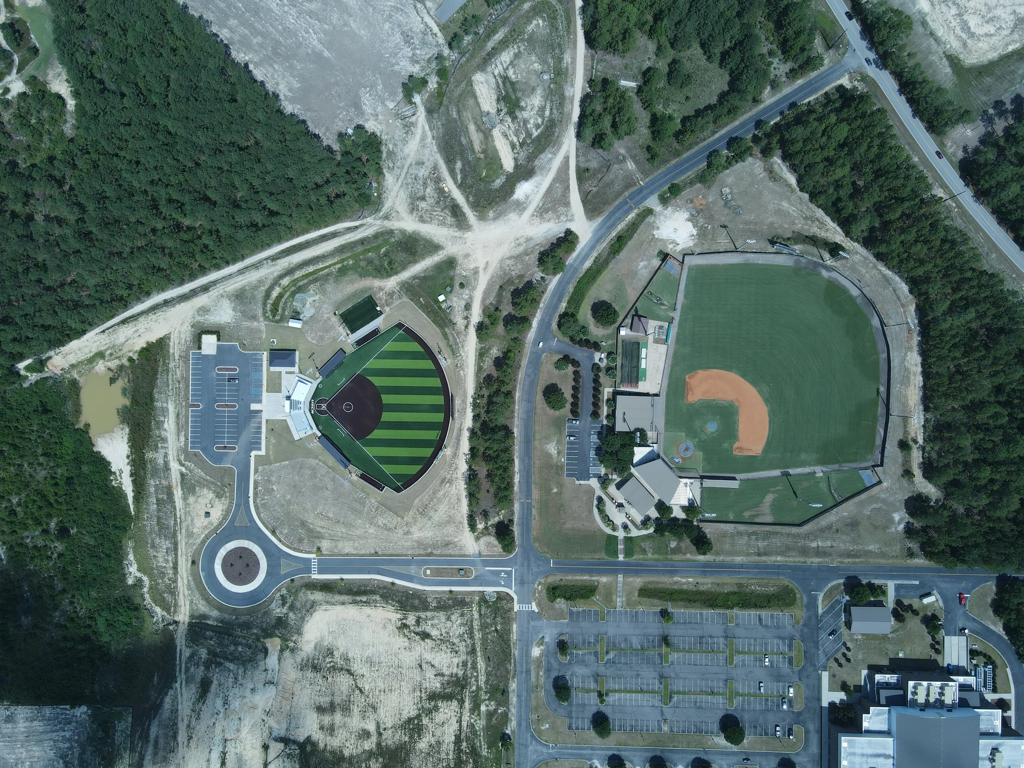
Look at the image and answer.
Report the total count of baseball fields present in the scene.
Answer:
2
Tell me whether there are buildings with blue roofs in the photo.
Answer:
Yes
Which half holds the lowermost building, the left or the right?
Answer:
right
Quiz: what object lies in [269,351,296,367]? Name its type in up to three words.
building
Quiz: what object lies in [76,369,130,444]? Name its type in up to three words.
pond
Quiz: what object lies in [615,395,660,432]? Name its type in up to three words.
building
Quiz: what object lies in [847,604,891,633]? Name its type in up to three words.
shed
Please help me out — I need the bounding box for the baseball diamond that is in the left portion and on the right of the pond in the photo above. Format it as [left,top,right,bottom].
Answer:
[309,322,450,493]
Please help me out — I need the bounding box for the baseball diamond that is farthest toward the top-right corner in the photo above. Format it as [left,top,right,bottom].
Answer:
[660,253,889,480]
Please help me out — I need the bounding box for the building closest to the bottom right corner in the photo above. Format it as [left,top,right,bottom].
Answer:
[833,670,1024,768]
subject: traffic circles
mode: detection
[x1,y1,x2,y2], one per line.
[213,540,267,594]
